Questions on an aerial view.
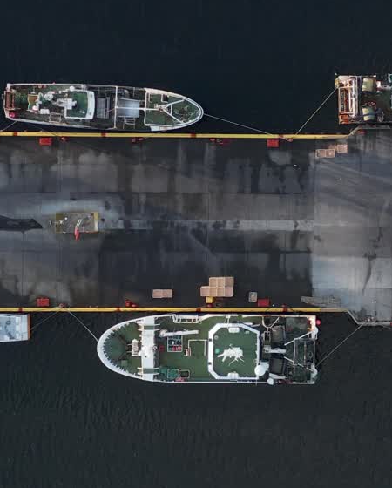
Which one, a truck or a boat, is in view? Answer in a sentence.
Visible in the photo is a boat.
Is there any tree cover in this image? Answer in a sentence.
No, the scene doesn't show any tree cover.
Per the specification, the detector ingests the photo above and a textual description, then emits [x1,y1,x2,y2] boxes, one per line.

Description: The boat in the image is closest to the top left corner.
[4,83,209,131]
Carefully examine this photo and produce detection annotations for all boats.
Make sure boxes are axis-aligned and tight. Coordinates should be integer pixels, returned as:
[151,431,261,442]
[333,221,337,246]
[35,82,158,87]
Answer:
[4,83,209,131]
[0,313,35,342]
[338,73,392,125]
[97,312,318,385]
